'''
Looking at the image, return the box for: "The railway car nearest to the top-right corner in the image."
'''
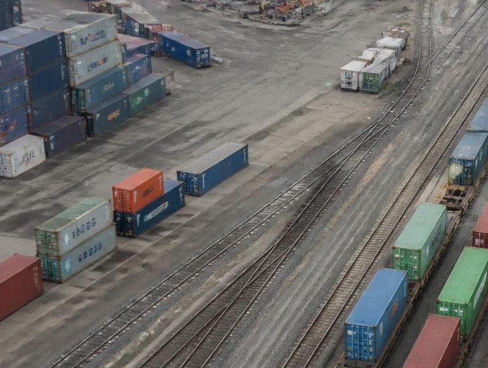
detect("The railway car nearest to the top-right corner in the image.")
[436,159,488,206]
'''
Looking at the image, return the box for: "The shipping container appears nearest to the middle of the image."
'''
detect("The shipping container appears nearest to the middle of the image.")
[178,142,249,196]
